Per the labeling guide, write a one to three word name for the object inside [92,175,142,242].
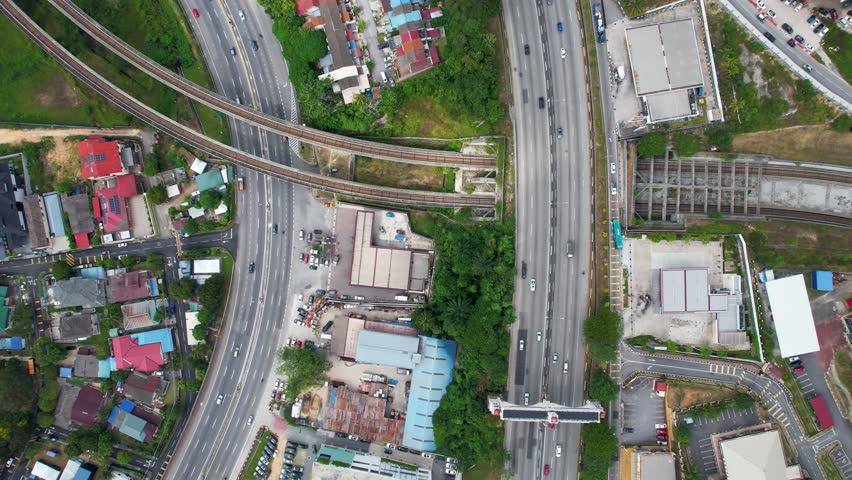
house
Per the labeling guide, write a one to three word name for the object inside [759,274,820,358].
building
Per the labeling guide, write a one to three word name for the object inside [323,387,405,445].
shed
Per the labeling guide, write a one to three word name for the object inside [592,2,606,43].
vehicle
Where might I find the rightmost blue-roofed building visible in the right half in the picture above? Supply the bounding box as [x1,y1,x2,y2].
[807,271,835,291]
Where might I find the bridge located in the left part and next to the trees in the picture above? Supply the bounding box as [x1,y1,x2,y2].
[0,0,496,207]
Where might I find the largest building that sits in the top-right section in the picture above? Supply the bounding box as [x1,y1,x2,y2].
[622,18,704,99]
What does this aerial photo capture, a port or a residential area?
residential area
